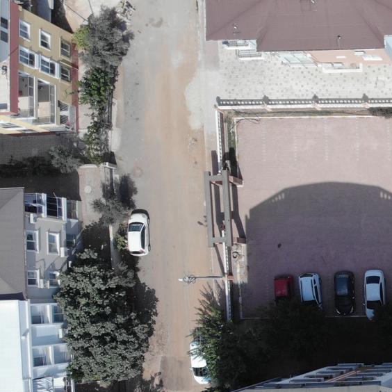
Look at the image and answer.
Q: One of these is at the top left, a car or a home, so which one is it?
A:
home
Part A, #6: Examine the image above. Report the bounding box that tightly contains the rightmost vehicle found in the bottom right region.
[359,267,383,319]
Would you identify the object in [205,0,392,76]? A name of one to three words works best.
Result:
house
